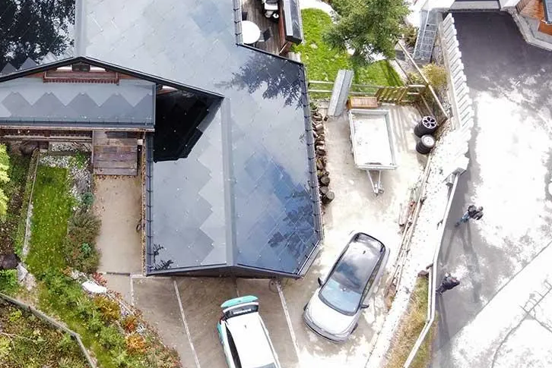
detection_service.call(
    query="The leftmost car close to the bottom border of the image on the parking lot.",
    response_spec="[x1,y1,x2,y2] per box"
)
[208,282,283,368]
